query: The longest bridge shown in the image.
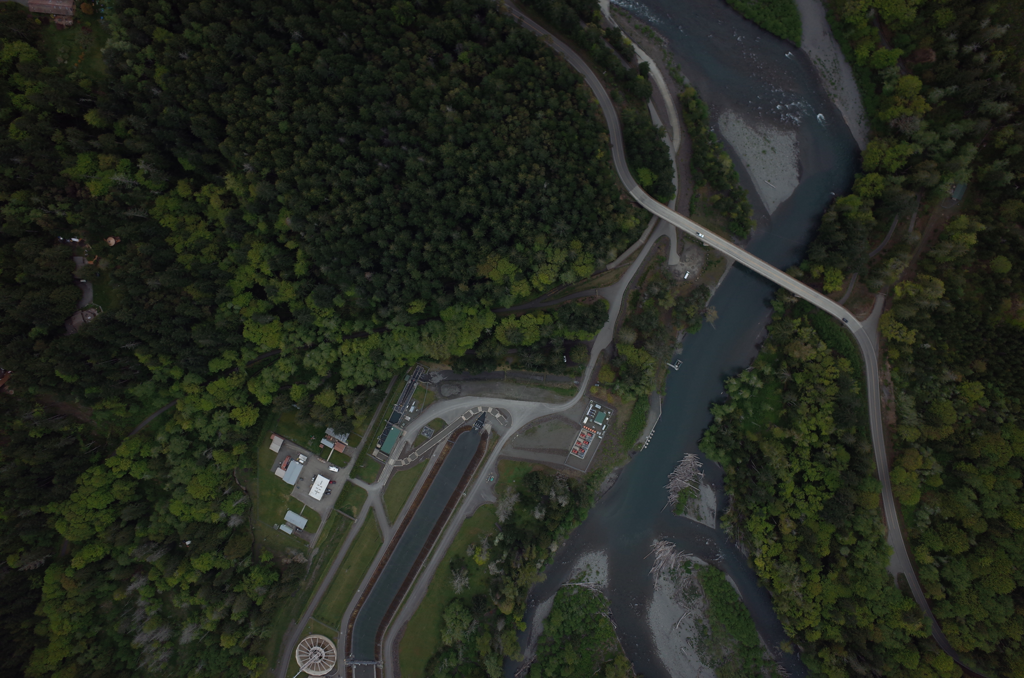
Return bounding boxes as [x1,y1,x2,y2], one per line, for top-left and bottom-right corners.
[629,184,865,336]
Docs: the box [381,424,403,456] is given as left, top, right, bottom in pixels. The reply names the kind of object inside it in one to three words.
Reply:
building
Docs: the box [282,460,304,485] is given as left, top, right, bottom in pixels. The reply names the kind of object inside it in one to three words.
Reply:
building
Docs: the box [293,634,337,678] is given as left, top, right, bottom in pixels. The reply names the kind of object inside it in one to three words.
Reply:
storage tank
